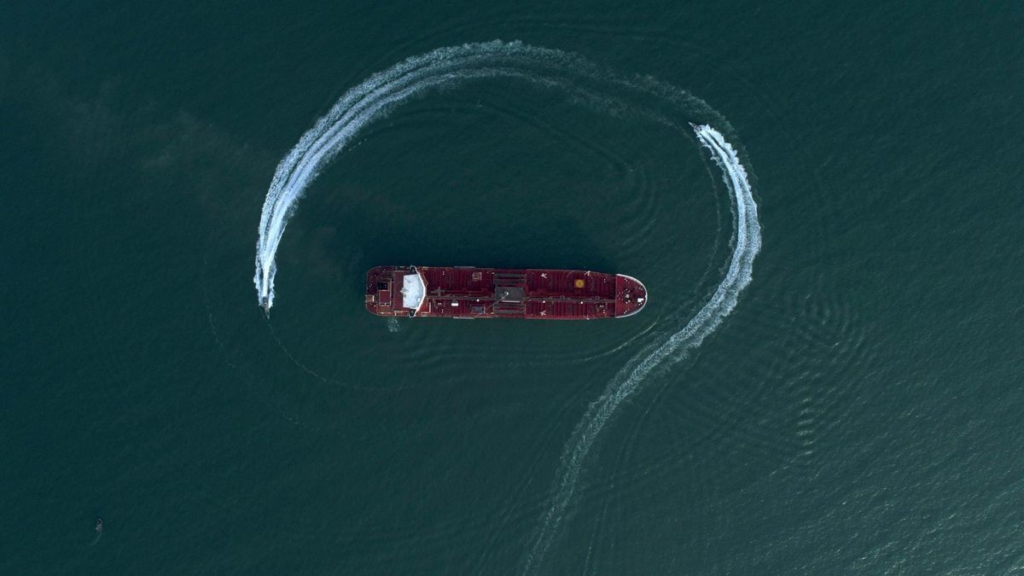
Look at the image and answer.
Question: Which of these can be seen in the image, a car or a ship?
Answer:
ship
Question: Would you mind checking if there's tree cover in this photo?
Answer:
No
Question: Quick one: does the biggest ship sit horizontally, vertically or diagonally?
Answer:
horizontally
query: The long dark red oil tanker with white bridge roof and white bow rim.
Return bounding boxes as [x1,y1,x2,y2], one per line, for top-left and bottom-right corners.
[365,266,648,319]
